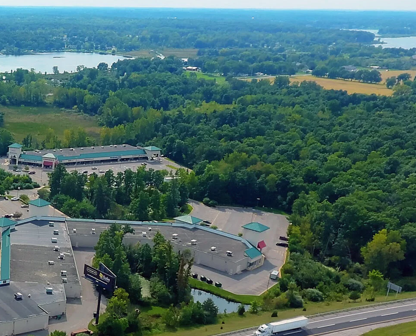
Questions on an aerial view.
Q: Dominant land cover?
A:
trees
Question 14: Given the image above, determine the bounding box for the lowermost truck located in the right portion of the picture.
[259,313,307,336]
